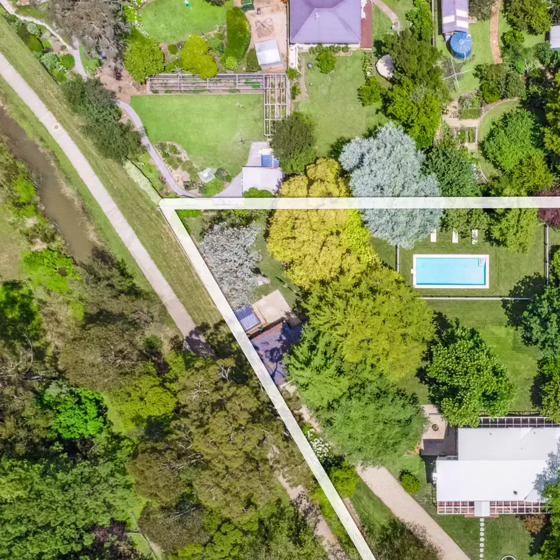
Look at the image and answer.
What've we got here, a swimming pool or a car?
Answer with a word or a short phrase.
swimming pool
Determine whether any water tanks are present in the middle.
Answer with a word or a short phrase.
No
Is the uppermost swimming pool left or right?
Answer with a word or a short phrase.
right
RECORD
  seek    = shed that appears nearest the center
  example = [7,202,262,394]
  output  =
[235,304,264,332]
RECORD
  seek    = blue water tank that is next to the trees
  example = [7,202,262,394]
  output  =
[448,31,472,58]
